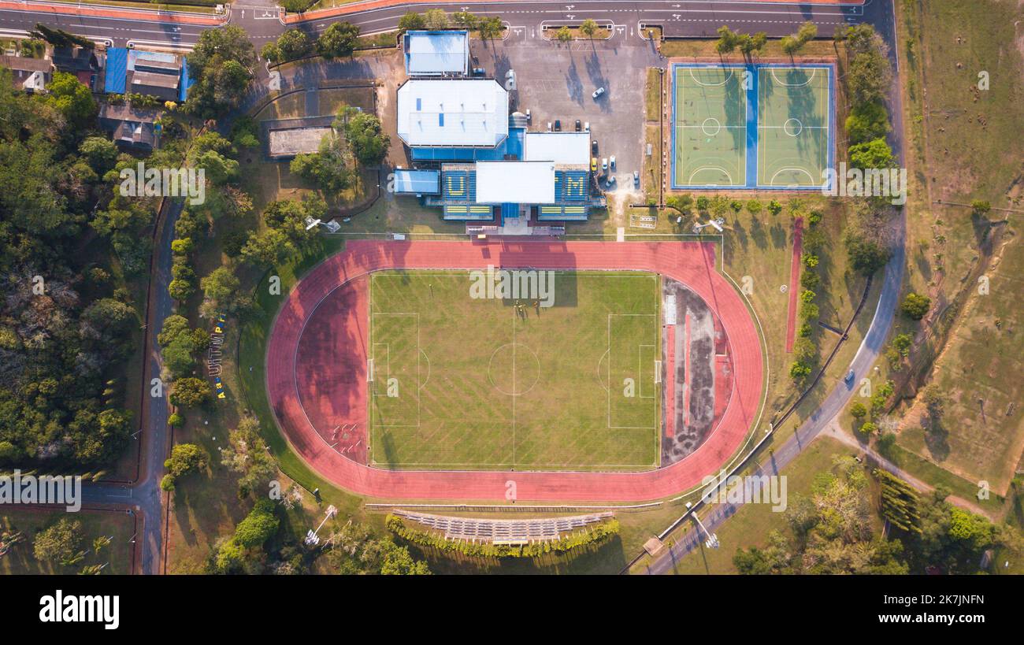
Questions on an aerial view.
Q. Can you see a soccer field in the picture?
Yes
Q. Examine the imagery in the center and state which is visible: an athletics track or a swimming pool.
athletics track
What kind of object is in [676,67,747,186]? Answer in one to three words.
sports court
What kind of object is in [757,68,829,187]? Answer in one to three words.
sports court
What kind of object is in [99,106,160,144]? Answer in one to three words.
house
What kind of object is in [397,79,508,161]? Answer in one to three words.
building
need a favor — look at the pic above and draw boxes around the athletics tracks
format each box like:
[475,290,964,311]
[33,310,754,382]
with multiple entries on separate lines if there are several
[265,239,763,500]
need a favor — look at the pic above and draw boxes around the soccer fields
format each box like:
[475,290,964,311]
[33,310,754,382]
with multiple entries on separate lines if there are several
[370,269,660,471]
